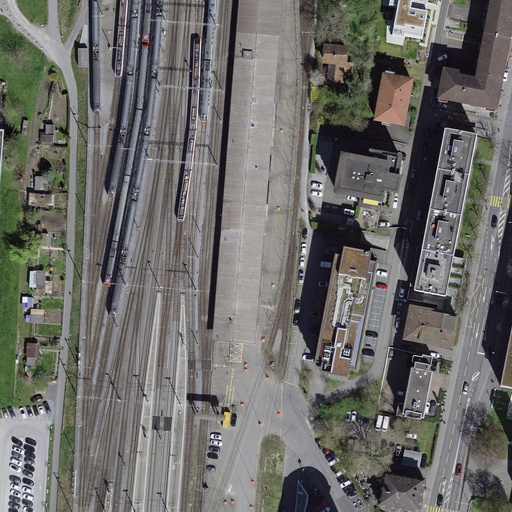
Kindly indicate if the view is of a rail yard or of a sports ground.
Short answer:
rail yard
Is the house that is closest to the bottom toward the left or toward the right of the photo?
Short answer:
right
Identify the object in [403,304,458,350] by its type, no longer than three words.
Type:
house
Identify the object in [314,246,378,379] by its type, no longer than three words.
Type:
building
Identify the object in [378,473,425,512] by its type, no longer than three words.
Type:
house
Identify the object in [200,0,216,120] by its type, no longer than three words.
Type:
train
